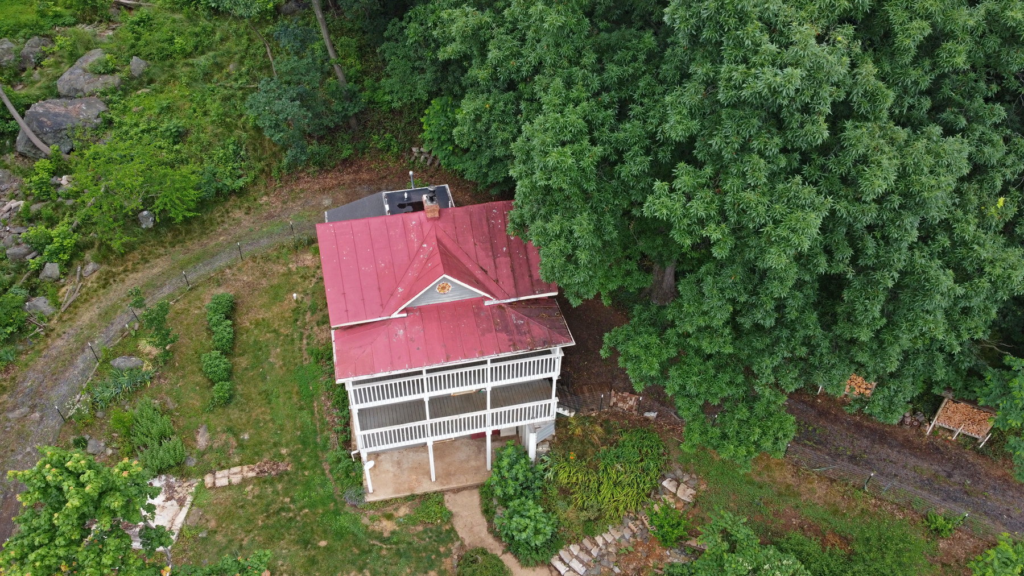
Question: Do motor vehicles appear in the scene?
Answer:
No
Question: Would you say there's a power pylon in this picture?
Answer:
No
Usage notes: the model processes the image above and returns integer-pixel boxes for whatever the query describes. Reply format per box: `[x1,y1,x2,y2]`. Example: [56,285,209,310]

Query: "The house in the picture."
[316,159,578,492]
